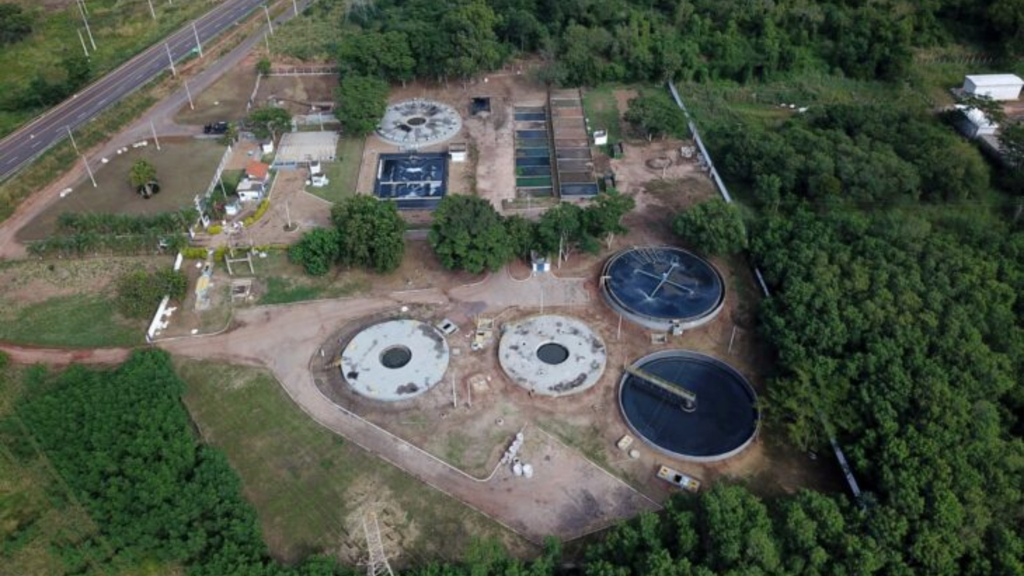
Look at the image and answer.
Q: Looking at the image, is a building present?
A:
Yes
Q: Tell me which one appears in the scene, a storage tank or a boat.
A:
storage tank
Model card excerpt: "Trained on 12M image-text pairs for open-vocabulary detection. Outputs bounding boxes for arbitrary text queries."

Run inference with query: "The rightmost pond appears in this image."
[374,153,448,212]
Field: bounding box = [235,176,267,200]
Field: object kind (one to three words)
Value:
house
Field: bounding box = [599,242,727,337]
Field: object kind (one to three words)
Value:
storage tank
